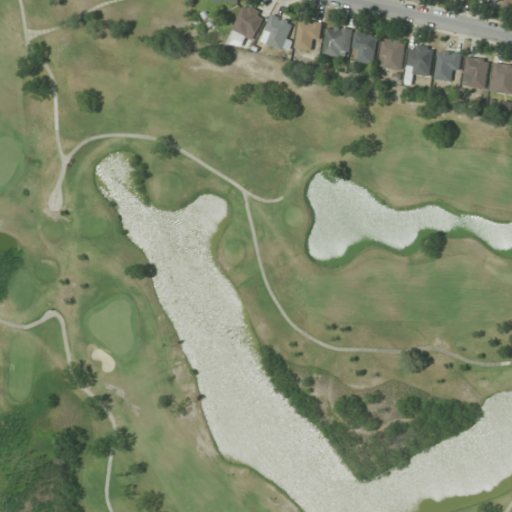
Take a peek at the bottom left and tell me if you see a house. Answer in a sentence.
No, at the bottom left there is no house.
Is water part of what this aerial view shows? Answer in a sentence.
Yes, there's water in this view.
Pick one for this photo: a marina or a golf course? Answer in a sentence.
The area seen from above is a golf course.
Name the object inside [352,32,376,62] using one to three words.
house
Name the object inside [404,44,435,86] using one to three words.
house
